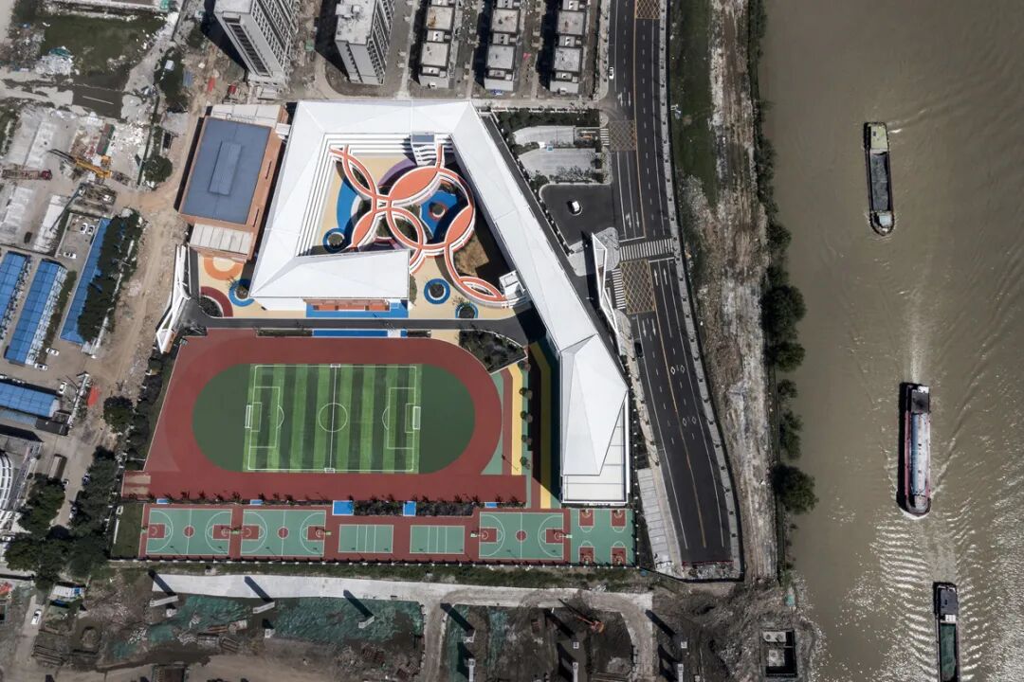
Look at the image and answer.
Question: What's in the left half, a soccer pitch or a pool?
soccer pitch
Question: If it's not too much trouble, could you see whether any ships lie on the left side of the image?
No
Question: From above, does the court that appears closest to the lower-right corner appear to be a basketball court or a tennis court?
basketball court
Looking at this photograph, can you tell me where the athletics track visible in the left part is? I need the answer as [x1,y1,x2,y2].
[124,329,526,503]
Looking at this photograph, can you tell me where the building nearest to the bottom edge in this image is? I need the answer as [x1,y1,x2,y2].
[51,584,90,599]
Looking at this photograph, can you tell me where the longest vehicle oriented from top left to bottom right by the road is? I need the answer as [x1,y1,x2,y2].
[553,593,607,636]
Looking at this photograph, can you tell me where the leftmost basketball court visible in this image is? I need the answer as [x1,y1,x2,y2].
[146,509,231,556]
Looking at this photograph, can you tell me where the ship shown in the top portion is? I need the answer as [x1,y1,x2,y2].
[862,117,895,236]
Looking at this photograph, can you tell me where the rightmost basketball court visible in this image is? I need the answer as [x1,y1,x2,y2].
[571,509,634,565]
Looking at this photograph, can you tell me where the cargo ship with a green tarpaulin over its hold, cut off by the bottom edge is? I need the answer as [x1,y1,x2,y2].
[931,583,962,682]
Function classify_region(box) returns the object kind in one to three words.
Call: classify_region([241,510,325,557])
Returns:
basketball court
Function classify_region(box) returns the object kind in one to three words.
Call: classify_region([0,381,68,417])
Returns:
shed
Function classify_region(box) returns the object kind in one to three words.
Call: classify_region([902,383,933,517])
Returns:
ship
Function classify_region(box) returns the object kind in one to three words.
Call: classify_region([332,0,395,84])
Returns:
building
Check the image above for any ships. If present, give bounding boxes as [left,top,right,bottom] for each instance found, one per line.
[931,583,962,682]
[862,117,895,236]
[902,383,933,517]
